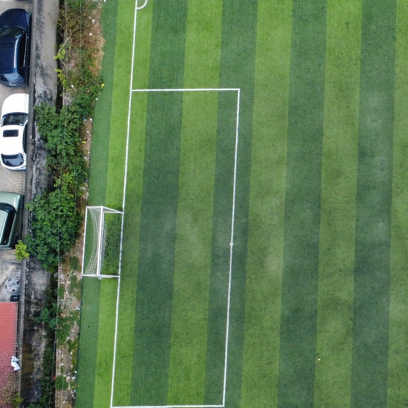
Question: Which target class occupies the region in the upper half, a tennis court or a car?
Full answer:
It is a car that can be seen in the upper half.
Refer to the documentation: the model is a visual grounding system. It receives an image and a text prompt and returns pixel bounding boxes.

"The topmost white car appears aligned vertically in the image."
[0,91,29,169]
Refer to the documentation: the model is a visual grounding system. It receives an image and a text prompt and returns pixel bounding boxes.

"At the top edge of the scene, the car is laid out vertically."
[0,5,32,85]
